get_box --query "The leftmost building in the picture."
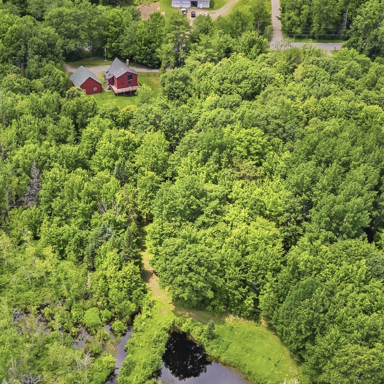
[71,66,102,94]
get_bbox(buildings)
[71,66,102,94]
[102,55,142,96]
[171,0,211,7]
